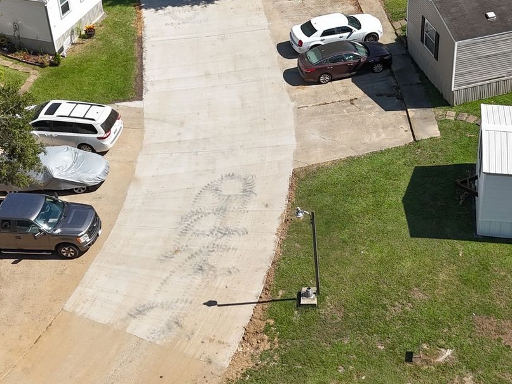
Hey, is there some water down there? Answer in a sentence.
No, there is no water in the image.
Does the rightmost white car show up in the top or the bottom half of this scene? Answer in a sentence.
The top half of the photo is where the rightmost white car is.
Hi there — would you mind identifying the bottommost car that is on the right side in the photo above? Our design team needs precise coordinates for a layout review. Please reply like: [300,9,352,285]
[295,37,395,82]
